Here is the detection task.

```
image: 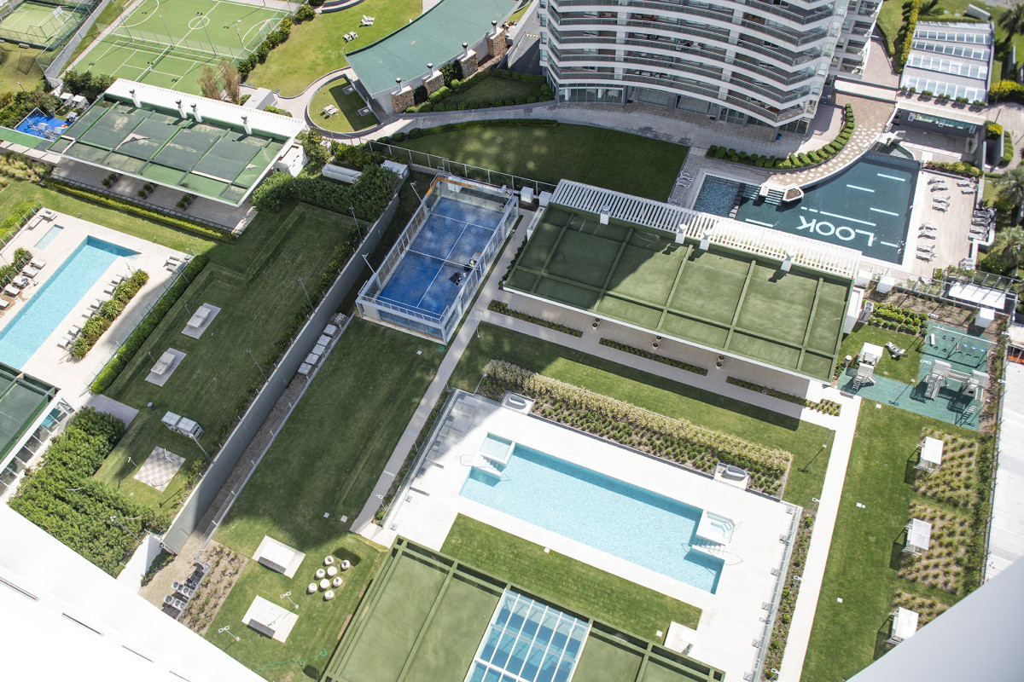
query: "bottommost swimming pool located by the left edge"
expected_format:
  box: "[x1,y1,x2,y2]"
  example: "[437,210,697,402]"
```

[0,237,139,369]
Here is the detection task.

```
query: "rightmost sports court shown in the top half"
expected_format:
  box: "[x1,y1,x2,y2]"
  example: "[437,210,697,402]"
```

[355,172,519,345]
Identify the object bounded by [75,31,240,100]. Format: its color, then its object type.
green tennis court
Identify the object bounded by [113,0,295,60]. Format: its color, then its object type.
green sports court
